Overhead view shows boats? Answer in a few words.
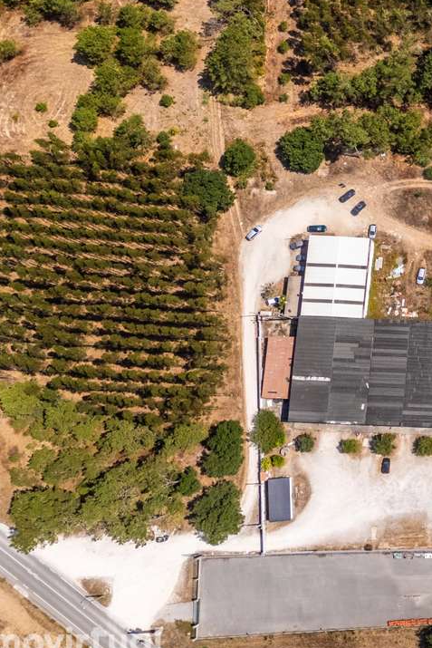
No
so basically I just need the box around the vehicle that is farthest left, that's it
[245,223,263,240]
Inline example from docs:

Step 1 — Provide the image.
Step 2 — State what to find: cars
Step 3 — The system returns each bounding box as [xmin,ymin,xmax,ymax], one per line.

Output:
[381,457,390,475]
[293,264,305,272]
[307,224,327,232]
[416,266,426,284]
[338,188,356,203]
[349,201,367,216]
[369,223,378,240]
[245,223,263,240]
[288,240,305,249]
[294,253,306,262]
